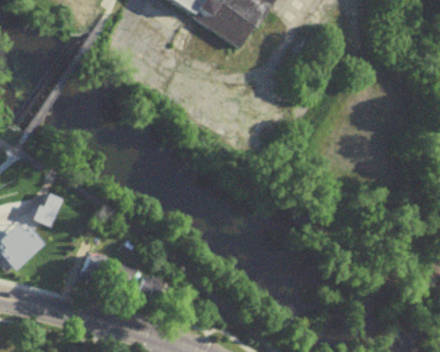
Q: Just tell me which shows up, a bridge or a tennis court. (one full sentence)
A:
I can see a bridge in this picture.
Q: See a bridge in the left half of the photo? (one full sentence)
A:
Yes, I can see a bridge in the left half of the photo.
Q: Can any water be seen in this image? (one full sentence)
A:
Yes, there is water in the image.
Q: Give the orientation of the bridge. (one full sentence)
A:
What the image shows is the bridge lying diagonally.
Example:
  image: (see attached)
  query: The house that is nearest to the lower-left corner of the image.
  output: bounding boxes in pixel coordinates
[78,252,110,278]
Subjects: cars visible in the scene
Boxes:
[123,241,134,250]
[0,292,10,298]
